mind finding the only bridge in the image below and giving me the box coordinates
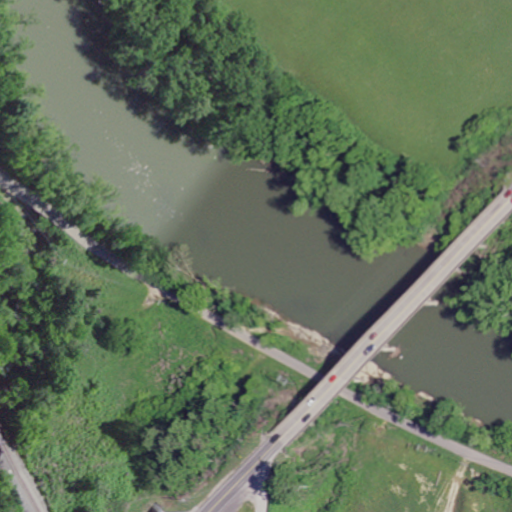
[264,188,512,456]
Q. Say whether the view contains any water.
Yes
